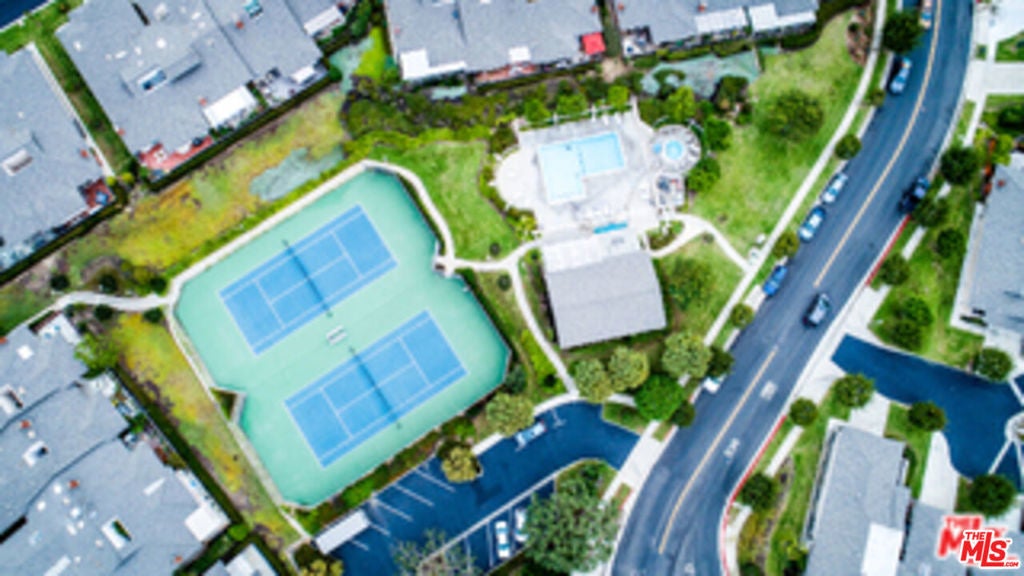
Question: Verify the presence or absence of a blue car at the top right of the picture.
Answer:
Yes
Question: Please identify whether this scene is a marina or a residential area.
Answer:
residential area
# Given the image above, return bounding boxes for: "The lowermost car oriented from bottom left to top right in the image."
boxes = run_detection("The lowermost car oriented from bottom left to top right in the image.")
[514,421,545,445]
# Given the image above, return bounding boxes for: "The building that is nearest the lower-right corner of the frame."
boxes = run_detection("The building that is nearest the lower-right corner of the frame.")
[898,501,1024,576]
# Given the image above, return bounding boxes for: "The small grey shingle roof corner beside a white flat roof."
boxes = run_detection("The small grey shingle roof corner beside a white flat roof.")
[205,542,276,576]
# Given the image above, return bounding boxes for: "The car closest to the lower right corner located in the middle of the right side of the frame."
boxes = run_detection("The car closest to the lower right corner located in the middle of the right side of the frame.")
[805,293,829,327]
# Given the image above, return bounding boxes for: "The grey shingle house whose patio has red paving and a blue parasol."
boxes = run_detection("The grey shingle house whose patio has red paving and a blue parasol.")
[0,44,108,258]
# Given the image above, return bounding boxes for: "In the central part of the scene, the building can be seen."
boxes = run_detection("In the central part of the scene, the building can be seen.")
[542,228,667,348]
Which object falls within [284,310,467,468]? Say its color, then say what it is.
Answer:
blue tennis court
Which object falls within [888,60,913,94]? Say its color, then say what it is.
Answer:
blue car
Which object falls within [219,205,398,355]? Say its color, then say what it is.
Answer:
blue tennis court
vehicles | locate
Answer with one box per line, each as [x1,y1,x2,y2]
[898,179,924,212]
[805,293,829,327]
[706,371,725,390]
[799,207,825,240]
[888,60,913,94]
[823,171,848,202]
[515,508,529,540]
[763,264,788,296]
[496,520,511,556]
[918,0,934,26]
[514,421,545,445]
